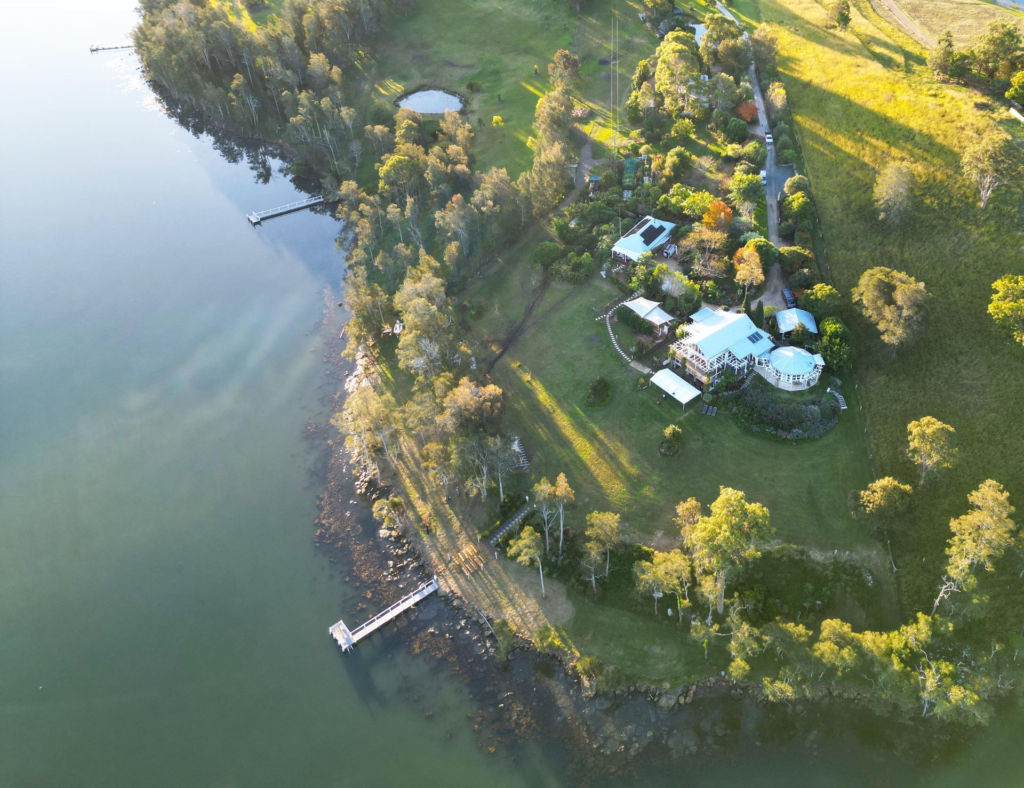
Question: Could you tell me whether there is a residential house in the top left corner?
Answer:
No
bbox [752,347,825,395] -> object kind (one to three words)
building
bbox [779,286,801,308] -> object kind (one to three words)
car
